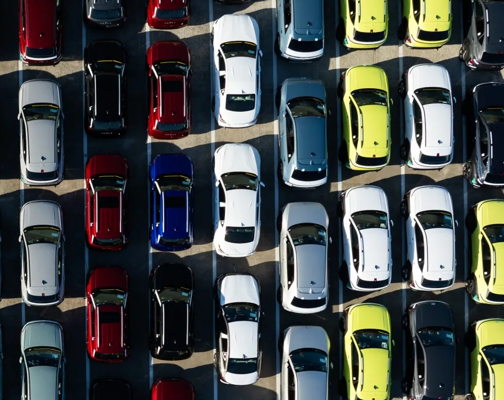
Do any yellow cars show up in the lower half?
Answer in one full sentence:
Yes, a yellow car is visible in the lower half.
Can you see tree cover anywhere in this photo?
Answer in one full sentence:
No, the scene doesn't show any tree cover.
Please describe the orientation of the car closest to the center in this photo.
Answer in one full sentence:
Seen from above, the car closest to the center lies up and down.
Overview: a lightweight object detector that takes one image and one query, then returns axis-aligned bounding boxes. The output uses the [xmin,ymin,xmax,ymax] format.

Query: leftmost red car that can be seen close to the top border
[19,0,63,66]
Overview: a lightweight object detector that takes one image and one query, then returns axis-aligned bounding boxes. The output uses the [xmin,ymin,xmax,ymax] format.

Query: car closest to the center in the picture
[210,143,262,258]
